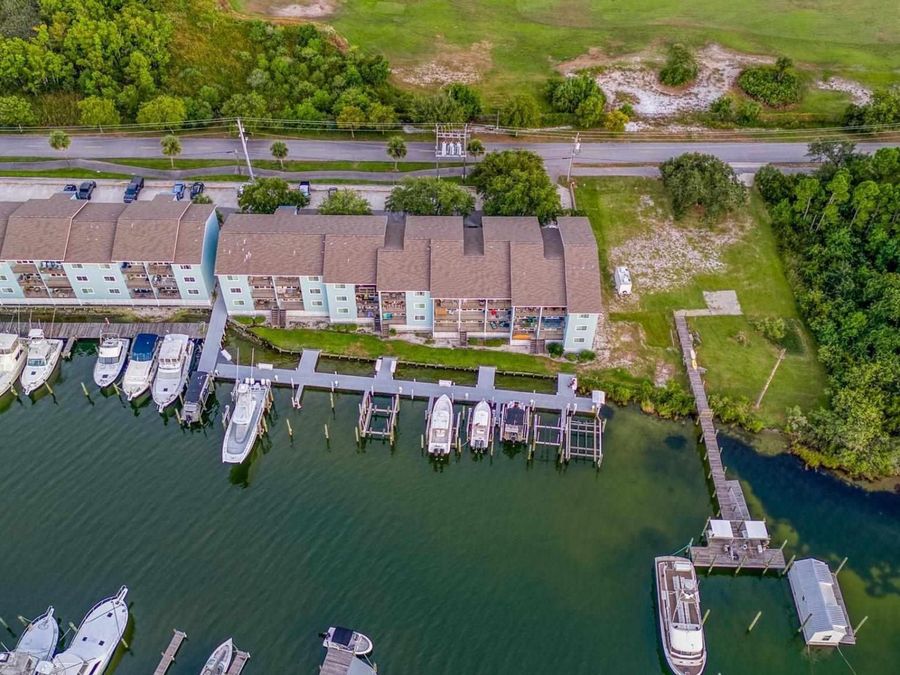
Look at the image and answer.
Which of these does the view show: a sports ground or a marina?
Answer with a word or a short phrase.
marina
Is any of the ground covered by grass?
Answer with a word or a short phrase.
Yes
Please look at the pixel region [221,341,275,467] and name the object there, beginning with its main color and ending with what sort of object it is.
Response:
white boat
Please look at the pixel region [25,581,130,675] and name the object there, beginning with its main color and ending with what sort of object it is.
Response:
white boat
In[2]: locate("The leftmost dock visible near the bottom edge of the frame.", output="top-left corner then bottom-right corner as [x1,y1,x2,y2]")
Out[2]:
[153,626,188,675]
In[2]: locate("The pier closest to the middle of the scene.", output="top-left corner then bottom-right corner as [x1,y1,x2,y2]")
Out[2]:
[214,350,597,419]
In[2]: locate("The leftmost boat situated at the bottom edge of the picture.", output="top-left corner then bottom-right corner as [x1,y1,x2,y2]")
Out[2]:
[1,606,56,675]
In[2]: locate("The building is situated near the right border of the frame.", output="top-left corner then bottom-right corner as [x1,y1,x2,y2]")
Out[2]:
[786,565,858,655]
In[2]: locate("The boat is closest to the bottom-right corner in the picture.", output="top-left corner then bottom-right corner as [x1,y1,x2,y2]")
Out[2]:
[650,559,707,675]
